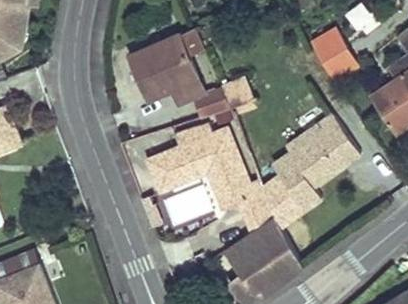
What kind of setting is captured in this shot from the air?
residential area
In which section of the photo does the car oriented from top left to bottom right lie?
right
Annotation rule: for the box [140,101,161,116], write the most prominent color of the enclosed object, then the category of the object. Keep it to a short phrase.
white car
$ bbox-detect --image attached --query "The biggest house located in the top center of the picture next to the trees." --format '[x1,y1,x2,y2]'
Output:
[128,28,206,106]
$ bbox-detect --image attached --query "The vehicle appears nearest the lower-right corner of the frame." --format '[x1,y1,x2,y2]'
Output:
[394,256,408,272]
